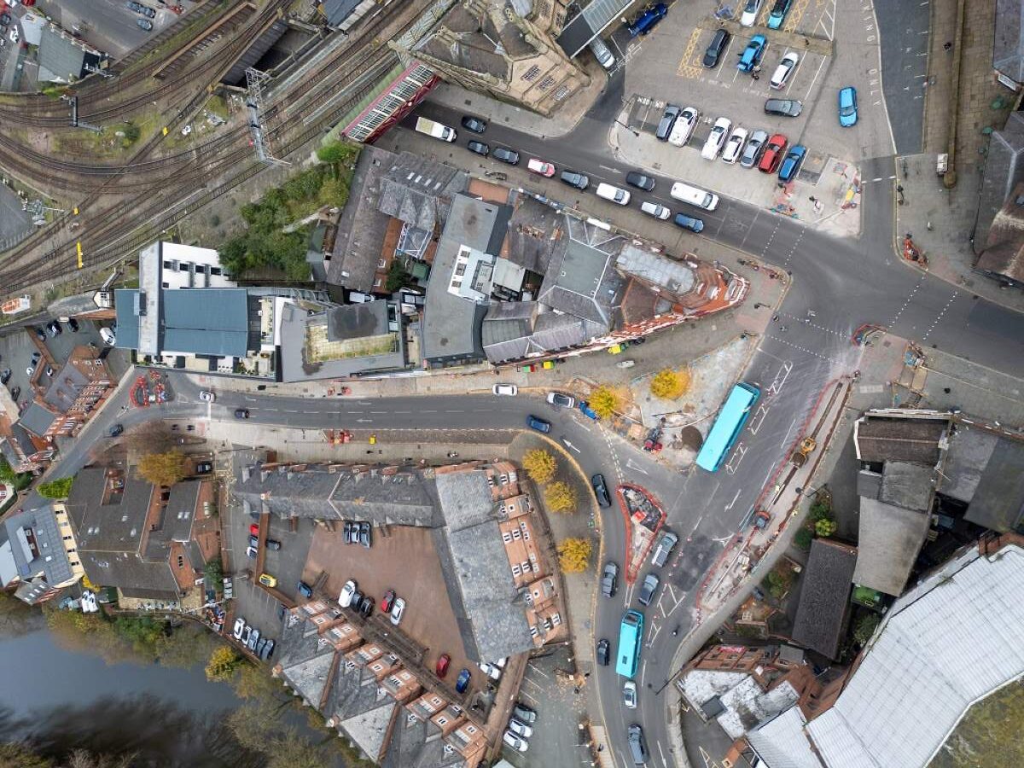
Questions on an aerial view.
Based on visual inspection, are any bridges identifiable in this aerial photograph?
Yes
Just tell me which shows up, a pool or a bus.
bus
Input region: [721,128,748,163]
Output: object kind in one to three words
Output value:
car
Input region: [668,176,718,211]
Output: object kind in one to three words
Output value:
van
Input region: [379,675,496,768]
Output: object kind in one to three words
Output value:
house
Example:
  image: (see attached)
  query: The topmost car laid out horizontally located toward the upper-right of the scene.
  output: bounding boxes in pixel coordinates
[764,97,803,116]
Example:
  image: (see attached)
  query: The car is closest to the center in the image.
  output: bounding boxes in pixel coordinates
[493,382,518,397]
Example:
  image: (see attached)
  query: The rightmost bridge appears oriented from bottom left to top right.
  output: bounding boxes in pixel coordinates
[338,58,442,144]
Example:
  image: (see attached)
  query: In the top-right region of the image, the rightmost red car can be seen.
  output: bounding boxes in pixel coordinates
[757,136,786,172]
